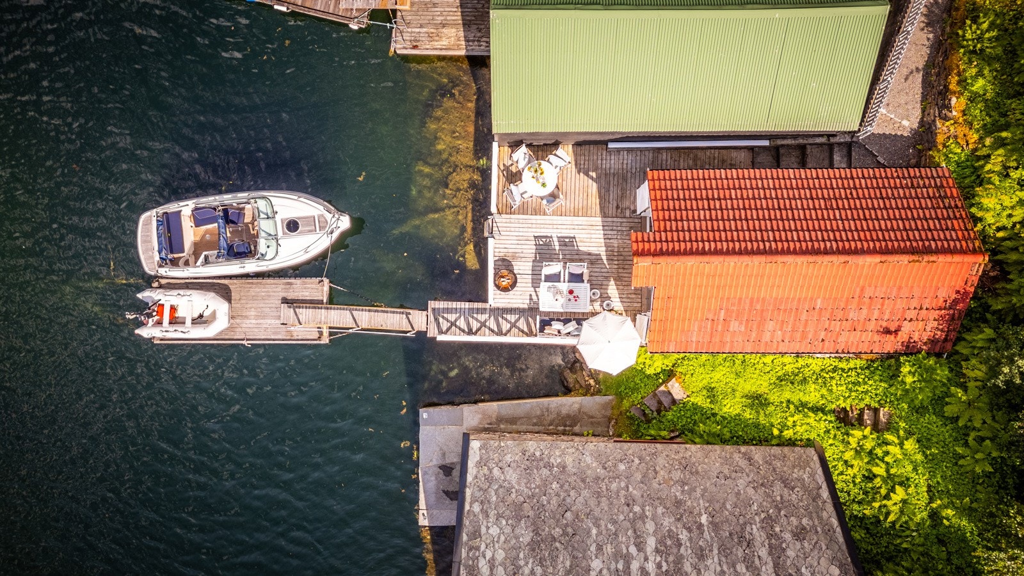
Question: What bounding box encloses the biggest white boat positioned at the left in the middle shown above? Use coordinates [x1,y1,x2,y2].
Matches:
[135,191,352,279]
